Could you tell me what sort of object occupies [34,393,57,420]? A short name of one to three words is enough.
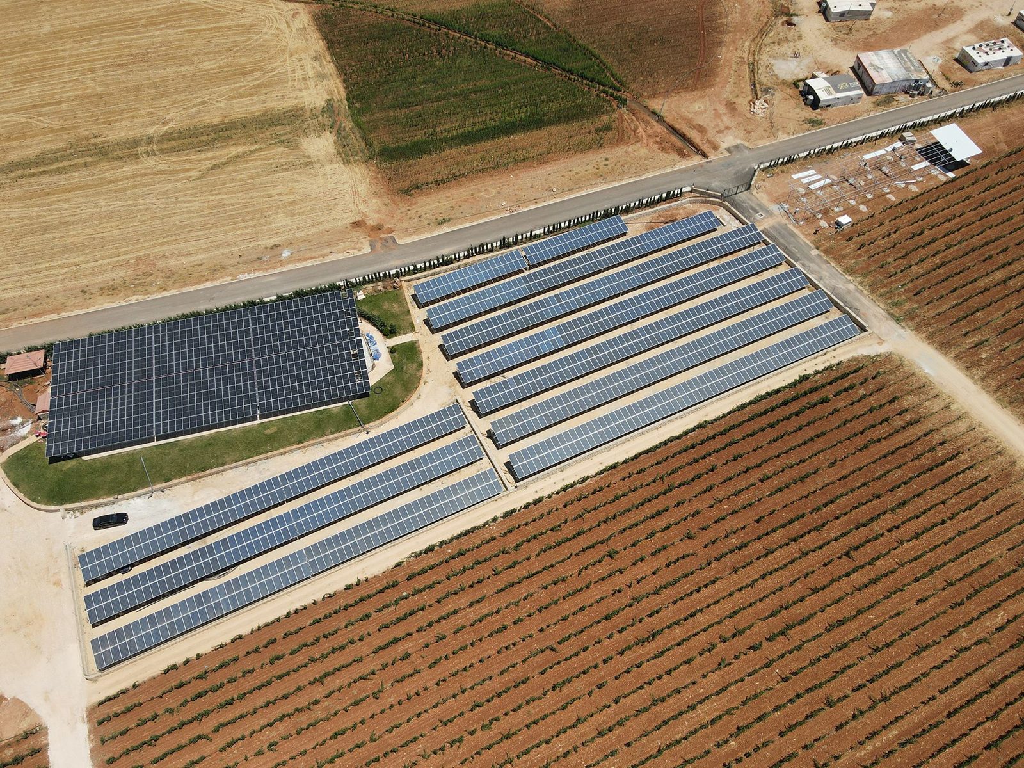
shed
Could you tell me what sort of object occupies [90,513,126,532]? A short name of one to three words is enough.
car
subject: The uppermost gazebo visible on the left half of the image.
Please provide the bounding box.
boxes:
[4,350,51,382]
